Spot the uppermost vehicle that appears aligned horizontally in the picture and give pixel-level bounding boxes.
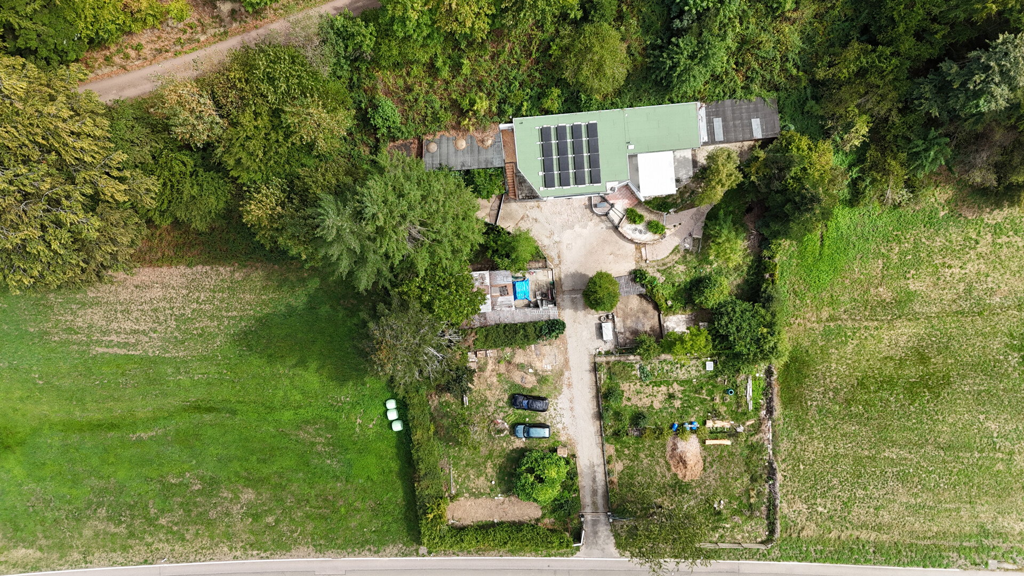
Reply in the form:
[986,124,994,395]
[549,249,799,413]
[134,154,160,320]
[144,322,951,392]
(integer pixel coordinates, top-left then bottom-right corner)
[511,394,548,411]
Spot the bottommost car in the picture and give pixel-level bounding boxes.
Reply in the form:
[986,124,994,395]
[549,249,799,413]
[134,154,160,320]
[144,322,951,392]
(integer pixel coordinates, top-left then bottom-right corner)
[515,423,550,440]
